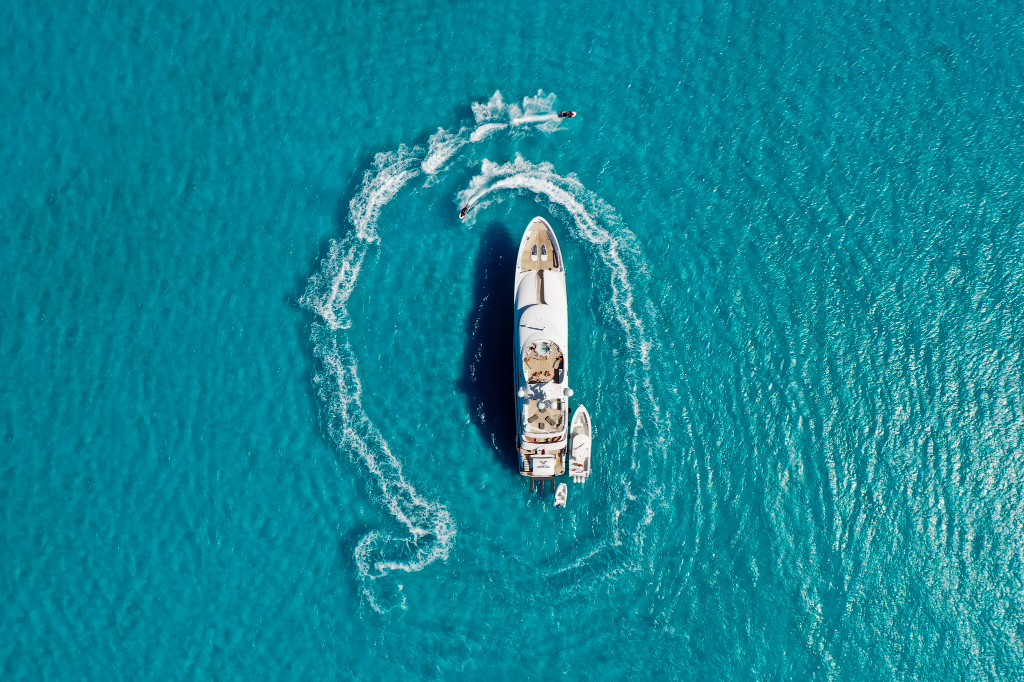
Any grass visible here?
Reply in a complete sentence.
No, there is no grass in the image.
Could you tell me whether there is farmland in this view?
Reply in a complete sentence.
No, there is no farmland in the image.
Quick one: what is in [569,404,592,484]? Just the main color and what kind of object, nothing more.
white boat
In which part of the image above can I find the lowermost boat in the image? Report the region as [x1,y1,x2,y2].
[553,482,568,510]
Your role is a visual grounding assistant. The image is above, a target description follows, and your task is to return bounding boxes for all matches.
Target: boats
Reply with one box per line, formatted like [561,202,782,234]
[513,217,573,477]
[569,404,592,484]
[553,482,568,510]
[460,203,470,219]
[558,111,576,118]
